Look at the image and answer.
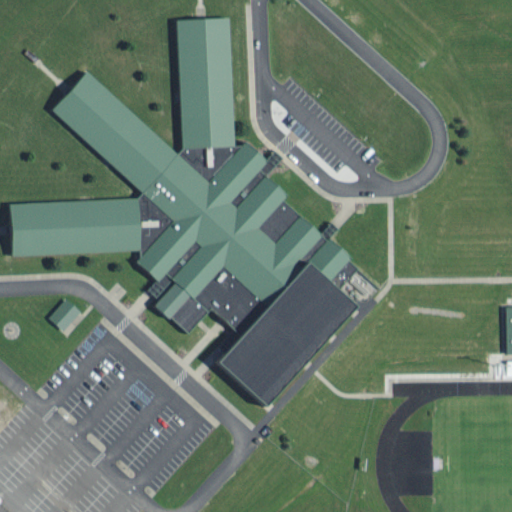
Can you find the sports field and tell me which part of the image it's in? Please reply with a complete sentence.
The sports field is located in the bottom right region of the scene.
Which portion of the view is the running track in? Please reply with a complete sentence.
The running track appears toward the bottom right of the photo.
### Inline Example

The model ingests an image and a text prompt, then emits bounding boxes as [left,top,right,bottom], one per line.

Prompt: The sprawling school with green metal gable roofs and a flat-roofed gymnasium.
[10,18,358,406]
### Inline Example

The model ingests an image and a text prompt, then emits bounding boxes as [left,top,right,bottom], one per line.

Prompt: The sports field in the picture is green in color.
[433,395,512,512]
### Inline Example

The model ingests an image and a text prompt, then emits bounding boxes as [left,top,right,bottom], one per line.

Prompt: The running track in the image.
[376,381,512,512]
